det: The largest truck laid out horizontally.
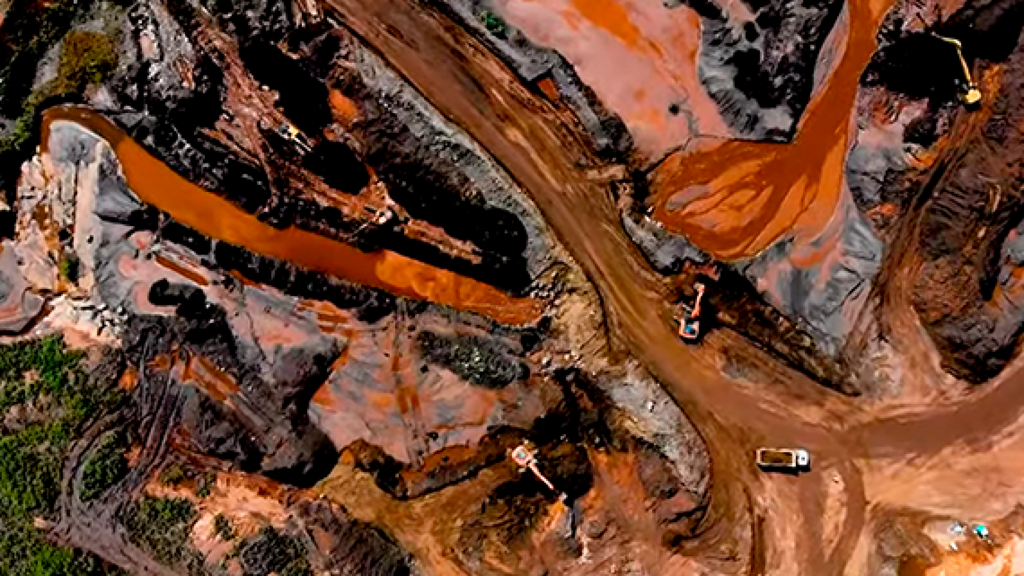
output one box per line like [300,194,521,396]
[754,446,809,468]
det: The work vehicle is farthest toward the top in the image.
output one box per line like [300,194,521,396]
[931,32,982,106]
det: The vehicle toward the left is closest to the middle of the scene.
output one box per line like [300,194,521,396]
[357,203,395,233]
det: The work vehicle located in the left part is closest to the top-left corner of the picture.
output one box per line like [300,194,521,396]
[284,123,312,151]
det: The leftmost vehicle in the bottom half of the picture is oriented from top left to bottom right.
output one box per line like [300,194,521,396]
[510,444,558,493]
